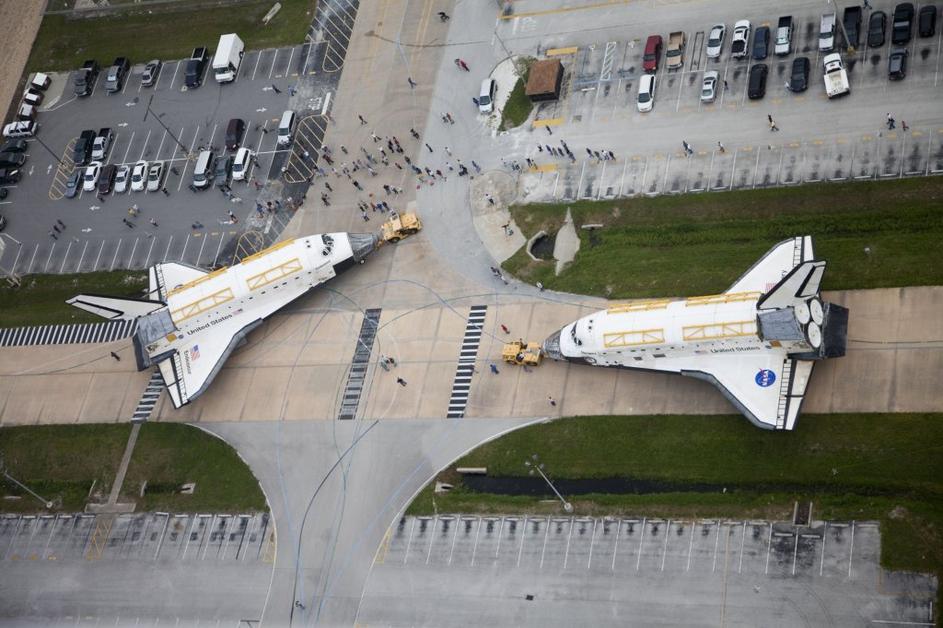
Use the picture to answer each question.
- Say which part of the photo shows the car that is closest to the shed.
top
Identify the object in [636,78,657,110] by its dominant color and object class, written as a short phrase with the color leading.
white car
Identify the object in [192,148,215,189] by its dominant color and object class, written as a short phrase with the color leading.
white vehicle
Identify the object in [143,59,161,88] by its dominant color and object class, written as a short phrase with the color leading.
gray car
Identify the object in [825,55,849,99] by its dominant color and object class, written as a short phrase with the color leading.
white truck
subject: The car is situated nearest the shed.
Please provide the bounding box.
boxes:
[475,79,499,115]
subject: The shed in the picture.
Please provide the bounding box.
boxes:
[524,57,566,108]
